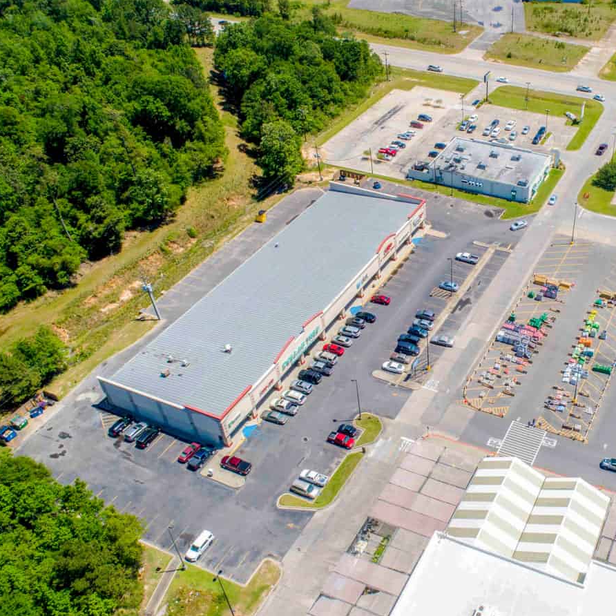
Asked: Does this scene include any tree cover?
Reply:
Yes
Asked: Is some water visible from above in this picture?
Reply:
No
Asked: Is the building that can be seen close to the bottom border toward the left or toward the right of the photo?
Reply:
right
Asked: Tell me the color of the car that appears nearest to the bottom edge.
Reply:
white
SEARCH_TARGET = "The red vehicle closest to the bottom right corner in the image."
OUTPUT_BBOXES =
[325,430,357,450]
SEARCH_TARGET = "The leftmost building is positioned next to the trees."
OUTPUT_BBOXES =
[97,180,428,454]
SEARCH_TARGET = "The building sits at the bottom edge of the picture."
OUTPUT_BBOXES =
[393,455,616,616]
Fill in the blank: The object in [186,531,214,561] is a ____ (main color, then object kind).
white car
